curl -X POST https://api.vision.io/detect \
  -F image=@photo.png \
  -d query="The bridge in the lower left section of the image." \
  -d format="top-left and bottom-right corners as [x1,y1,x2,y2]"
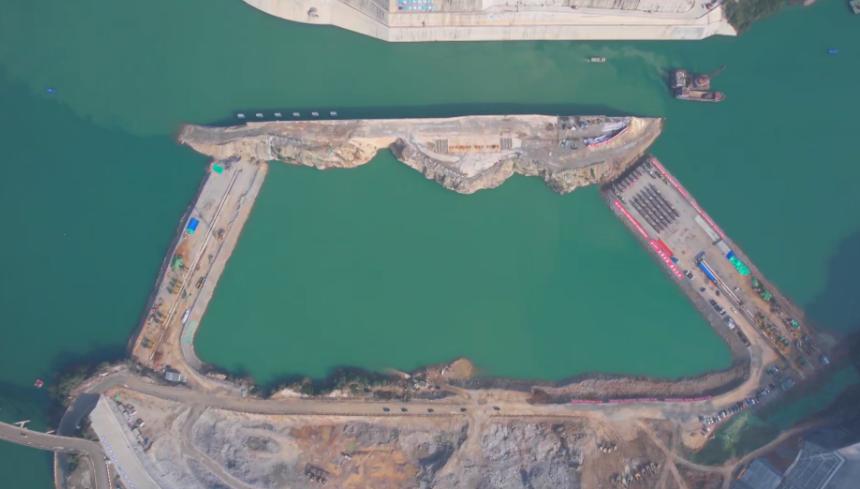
[0,420,83,456]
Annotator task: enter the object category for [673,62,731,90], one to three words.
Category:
ship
